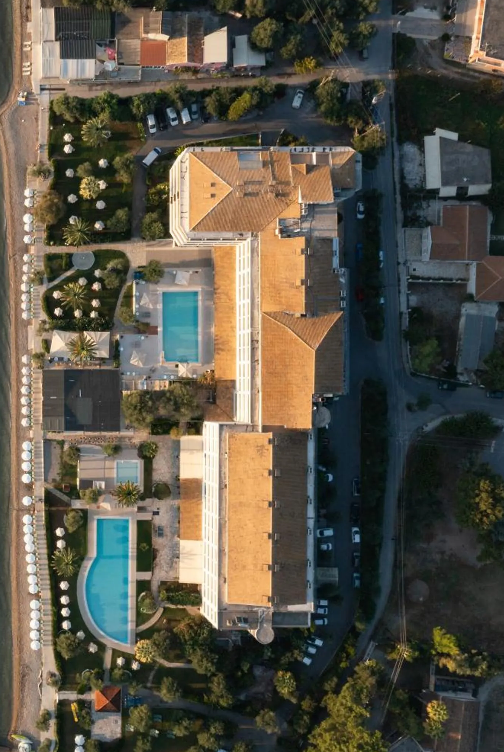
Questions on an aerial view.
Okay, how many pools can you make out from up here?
3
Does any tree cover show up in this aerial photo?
Yes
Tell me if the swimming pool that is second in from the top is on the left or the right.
left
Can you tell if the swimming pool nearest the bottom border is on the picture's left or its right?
left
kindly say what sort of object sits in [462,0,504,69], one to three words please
building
